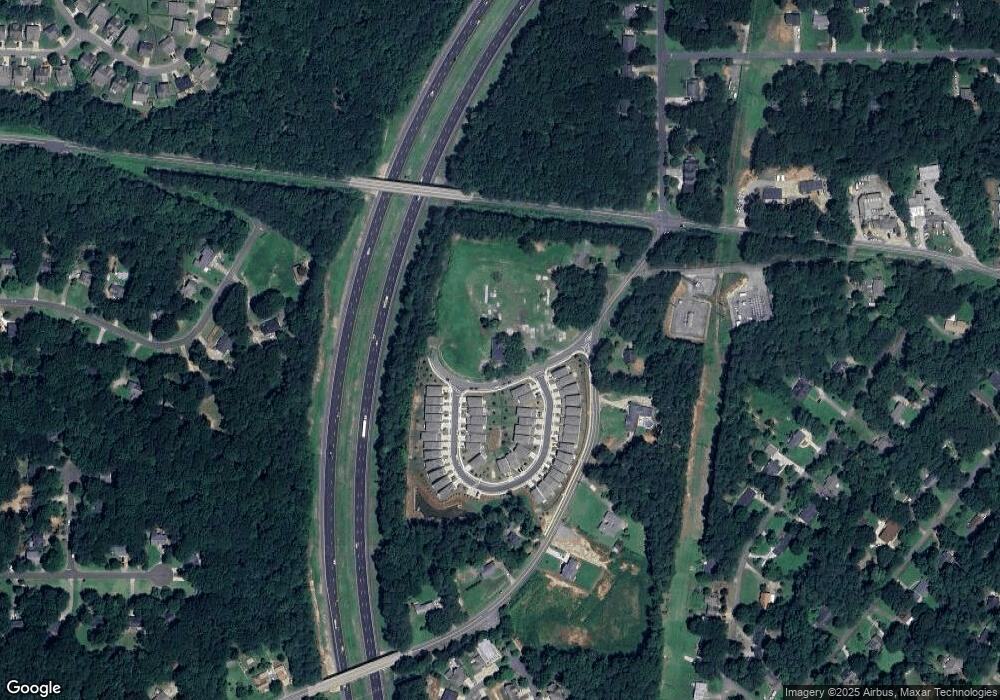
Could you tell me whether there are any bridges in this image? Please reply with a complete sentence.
Yes, this view includes a bridge.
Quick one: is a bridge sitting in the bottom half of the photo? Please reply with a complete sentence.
Yes, you'll find a bridge in the bottom half of the photo.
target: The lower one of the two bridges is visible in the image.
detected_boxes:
[303,650,405,697]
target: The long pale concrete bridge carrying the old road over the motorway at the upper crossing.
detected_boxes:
[349,177,473,201]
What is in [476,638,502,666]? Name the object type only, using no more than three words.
house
